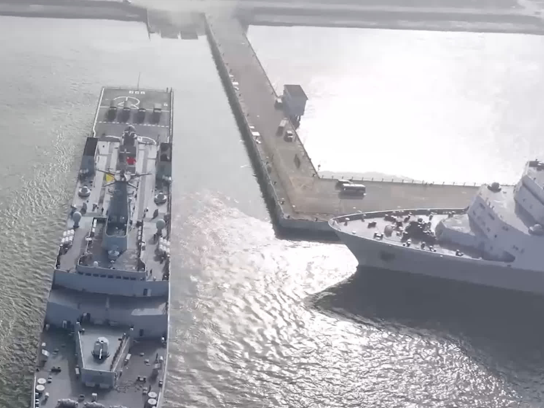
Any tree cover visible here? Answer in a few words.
No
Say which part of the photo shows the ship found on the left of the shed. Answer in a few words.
left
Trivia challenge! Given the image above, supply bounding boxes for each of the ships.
[31,69,173,408]
[328,165,544,299]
